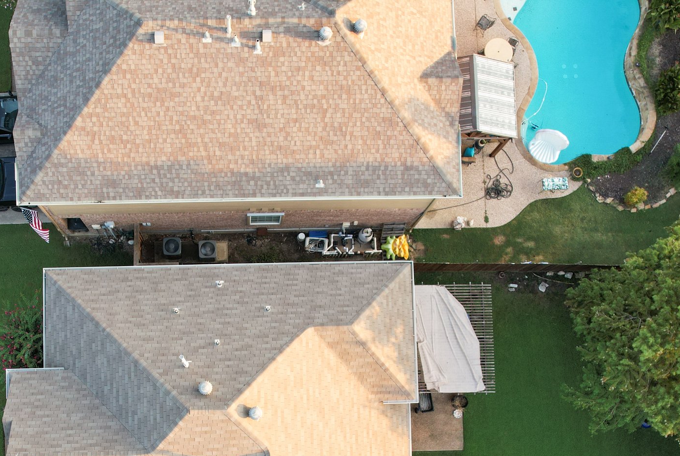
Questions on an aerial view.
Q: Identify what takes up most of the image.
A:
buildings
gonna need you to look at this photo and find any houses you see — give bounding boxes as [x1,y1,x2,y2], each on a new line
[8,0,464,255]
[2,258,420,456]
